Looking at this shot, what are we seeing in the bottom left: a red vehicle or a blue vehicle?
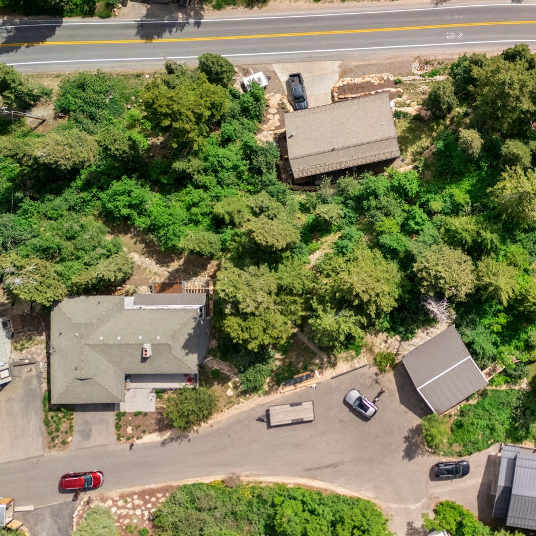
red vehicle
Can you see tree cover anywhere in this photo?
Yes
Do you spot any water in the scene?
No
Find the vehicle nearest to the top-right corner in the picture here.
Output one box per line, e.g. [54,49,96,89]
[288,74,307,110]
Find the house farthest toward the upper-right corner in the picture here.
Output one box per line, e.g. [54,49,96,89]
[285,94,401,179]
